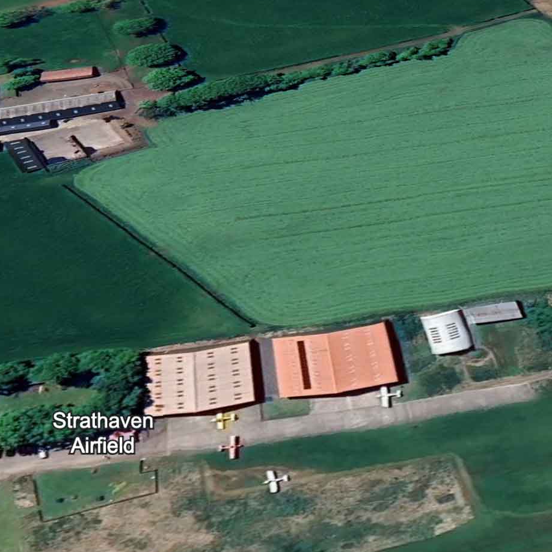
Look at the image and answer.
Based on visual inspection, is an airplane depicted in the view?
Yes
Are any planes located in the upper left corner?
No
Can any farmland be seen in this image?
Yes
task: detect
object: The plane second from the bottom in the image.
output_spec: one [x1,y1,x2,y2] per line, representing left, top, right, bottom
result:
[220,433,244,459]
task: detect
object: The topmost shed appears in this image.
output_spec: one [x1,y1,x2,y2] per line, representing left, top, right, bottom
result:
[40,66,96,85]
